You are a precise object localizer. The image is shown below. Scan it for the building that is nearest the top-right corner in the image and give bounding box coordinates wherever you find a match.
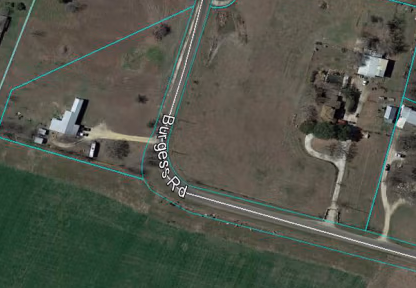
[360,54,389,77]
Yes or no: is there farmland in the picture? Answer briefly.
Yes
